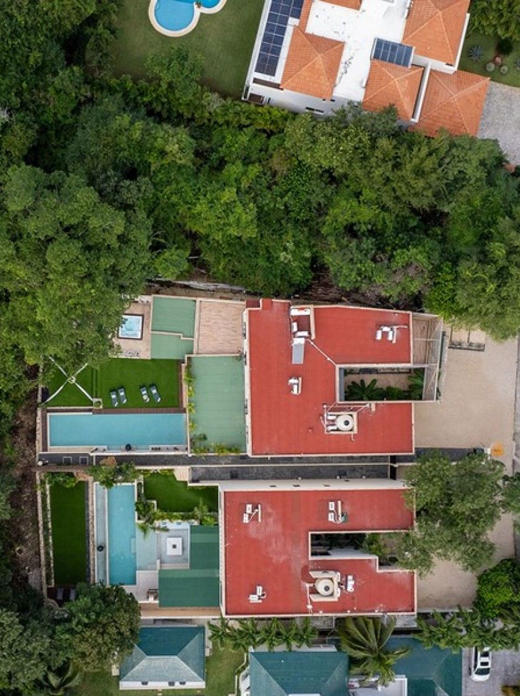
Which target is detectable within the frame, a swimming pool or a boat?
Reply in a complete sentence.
There is a swimming pool in the scene.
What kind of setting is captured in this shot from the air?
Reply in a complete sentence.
This image shows a residential area.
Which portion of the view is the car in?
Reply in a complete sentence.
The car appears toward the bottom right of the photo.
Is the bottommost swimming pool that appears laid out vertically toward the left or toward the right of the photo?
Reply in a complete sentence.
It is on the left.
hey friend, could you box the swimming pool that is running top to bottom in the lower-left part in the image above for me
[106,482,138,587]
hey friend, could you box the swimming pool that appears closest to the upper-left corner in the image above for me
[149,0,202,38]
